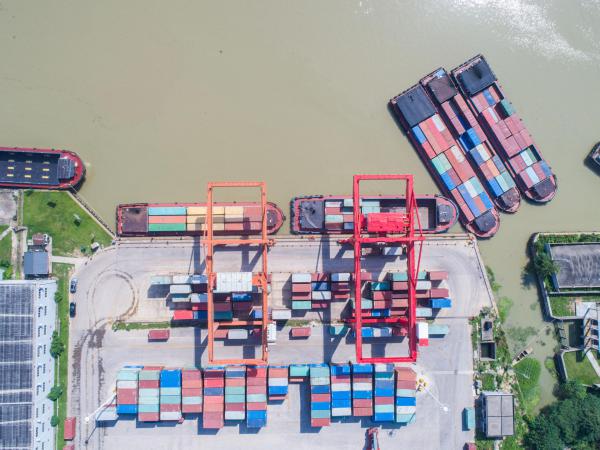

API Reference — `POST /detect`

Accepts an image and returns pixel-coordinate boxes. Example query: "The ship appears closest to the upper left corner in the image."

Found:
[0,146,87,189]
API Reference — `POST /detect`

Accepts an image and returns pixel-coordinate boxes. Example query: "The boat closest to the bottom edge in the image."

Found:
[513,347,534,366]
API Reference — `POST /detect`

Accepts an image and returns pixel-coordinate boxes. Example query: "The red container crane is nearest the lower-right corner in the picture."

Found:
[336,175,428,362]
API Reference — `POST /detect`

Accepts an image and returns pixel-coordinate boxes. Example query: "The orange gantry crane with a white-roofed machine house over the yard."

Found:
[200,182,282,363]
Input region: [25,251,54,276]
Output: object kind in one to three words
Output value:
house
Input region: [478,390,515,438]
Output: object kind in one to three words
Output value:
building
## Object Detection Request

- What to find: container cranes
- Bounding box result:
[200,182,282,363]
[336,175,428,362]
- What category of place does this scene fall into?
port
